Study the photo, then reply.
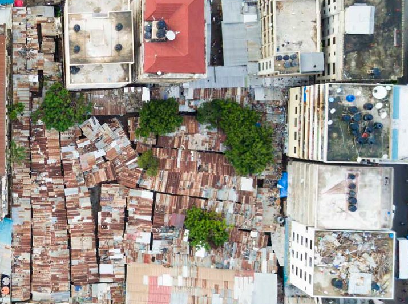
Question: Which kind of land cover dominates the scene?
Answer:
buildings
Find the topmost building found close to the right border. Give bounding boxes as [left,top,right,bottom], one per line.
[318,0,404,85]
